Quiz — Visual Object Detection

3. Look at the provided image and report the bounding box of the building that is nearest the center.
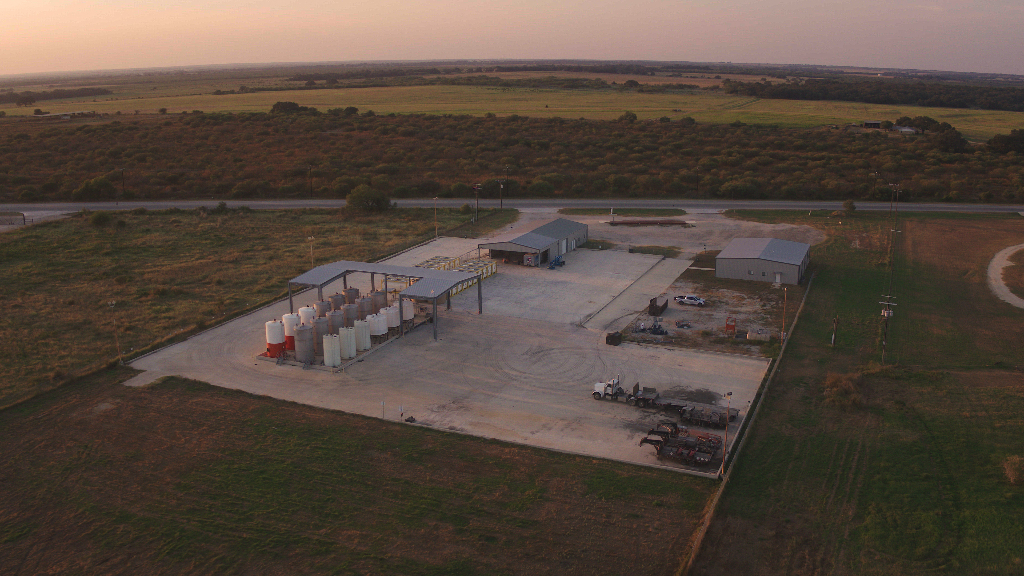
[477,218,588,267]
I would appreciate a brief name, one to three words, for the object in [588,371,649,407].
truck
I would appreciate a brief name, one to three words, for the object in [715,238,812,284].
building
